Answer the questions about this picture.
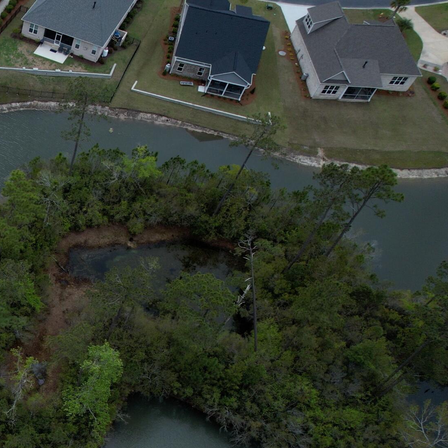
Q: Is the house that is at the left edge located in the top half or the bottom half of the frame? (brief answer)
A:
top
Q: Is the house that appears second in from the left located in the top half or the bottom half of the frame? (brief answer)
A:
top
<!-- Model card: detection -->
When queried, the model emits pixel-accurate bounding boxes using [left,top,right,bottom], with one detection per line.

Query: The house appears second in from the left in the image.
[170,0,276,101]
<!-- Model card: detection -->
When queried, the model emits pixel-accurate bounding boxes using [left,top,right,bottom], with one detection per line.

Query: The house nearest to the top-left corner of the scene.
[20,0,143,63]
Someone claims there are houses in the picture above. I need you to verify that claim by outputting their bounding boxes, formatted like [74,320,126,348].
[20,0,143,63]
[291,0,423,102]
[170,0,276,101]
